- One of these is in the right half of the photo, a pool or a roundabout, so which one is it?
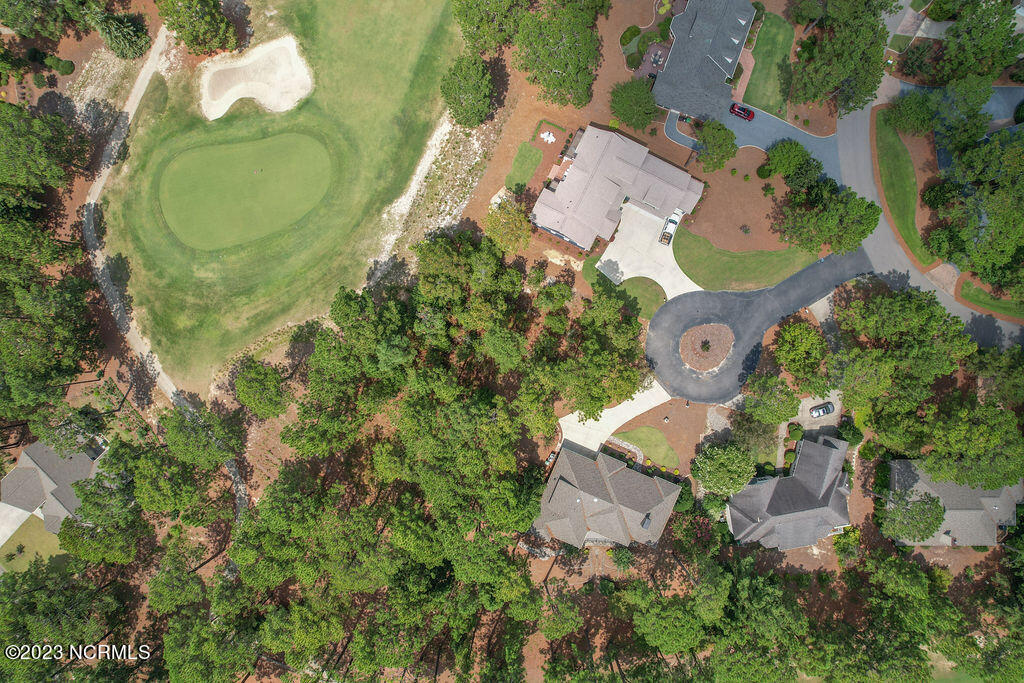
roundabout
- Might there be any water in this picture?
No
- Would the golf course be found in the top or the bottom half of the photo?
top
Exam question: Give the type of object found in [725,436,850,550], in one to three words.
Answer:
house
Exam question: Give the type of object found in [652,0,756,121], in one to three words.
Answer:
house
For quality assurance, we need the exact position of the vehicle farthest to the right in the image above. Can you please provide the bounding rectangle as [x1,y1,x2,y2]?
[809,401,839,420]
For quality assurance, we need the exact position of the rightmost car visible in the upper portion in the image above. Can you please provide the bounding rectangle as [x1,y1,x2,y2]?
[730,102,756,121]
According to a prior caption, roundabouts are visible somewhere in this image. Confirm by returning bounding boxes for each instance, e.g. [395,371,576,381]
[646,246,874,404]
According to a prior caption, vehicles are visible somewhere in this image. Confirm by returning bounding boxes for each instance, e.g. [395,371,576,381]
[657,209,684,248]
[809,401,839,420]
[730,102,756,121]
